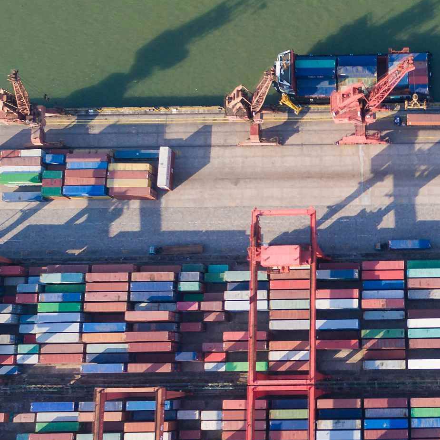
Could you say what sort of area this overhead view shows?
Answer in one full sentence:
This looks like a port.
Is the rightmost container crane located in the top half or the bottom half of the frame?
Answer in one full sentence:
Seen from above, the rightmost container crane lies in the top half of the view.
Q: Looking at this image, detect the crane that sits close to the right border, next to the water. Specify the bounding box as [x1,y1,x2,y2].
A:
[327,56,439,145]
